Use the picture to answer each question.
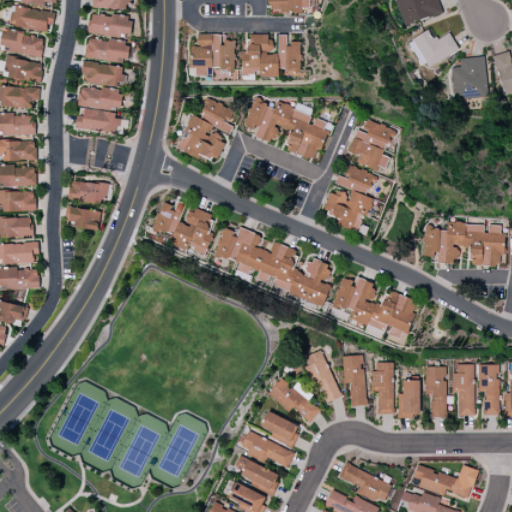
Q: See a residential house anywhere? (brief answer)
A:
Yes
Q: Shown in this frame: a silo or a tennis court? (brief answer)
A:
tennis court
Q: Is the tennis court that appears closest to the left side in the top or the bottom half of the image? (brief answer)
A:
bottom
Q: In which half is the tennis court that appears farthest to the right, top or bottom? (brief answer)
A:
bottom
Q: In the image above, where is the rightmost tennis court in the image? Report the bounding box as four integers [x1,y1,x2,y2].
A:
[150,412,208,487]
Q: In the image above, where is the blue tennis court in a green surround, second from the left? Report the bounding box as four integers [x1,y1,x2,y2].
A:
[81,397,138,471]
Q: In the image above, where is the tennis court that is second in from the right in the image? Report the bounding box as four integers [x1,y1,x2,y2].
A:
[111,412,169,488]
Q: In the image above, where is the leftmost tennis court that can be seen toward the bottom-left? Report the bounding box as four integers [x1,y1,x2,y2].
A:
[52,380,108,455]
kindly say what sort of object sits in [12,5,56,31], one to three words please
house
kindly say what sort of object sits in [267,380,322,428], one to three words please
house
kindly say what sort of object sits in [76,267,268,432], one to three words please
sports field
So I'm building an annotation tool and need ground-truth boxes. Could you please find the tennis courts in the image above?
[81,397,138,471]
[111,412,169,488]
[150,412,208,487]
[52,380,108,455]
